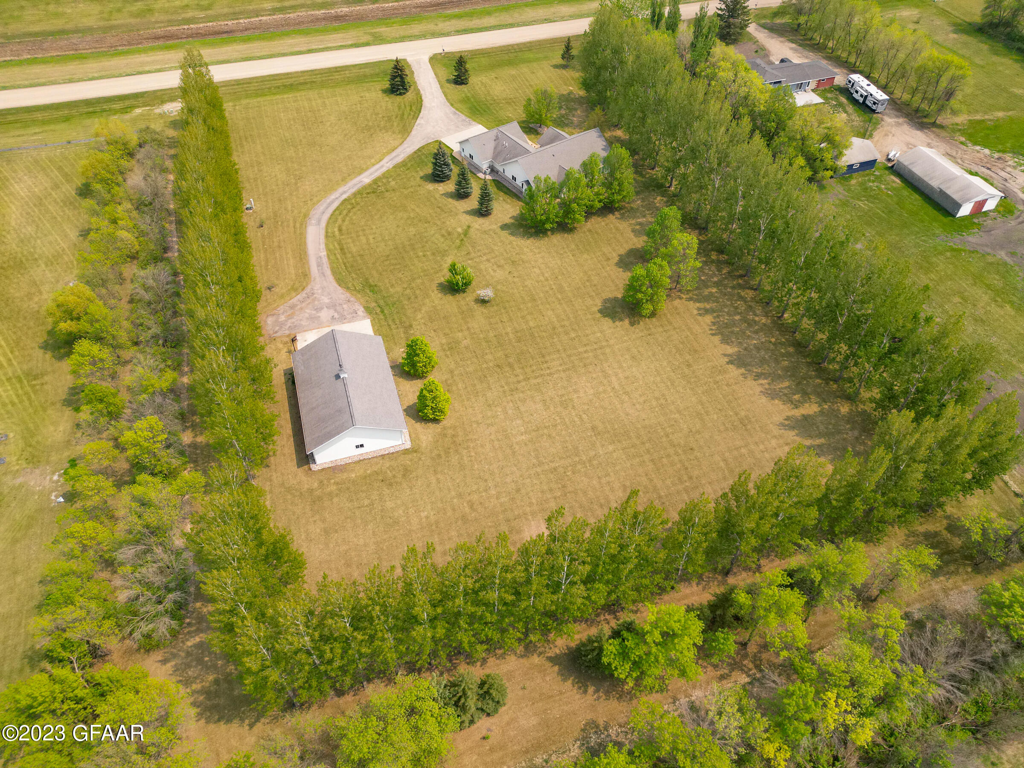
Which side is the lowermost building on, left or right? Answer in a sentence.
You can find the lowermost building on the left side of the picture.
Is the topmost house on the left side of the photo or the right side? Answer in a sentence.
The topmost house appears in the right half of the scene.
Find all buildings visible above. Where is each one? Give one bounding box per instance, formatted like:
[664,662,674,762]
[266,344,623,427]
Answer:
[814,137,881,178]
[455,121,613,200]
[291,329,408,464]
[736,57,840,94]
[893,146,1005,218]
